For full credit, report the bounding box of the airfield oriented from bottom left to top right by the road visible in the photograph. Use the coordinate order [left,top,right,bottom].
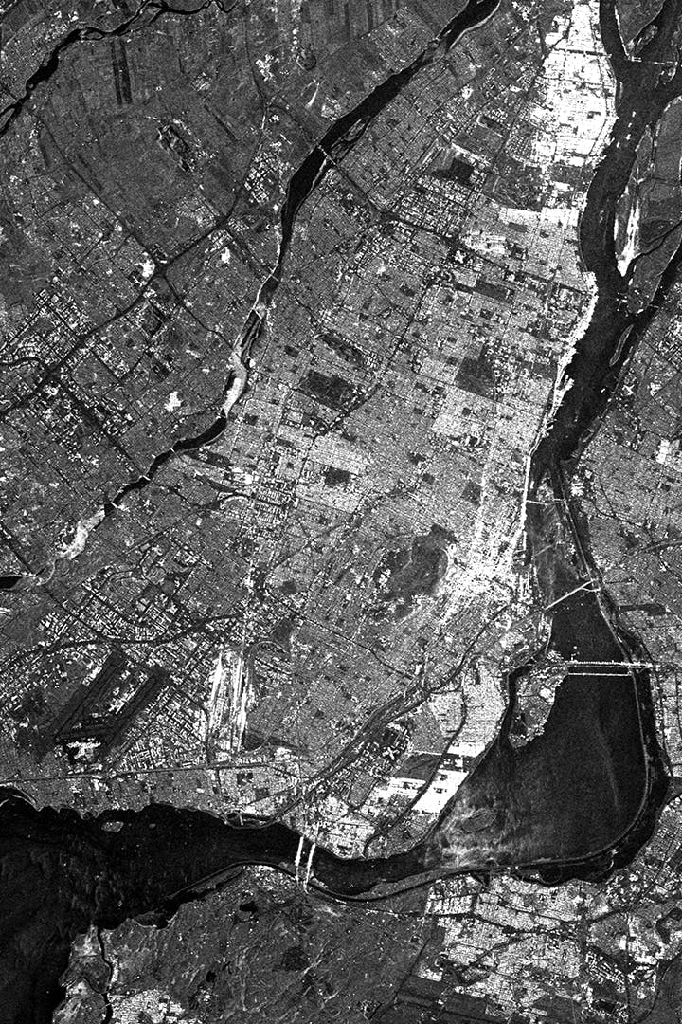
[35,653,168,766]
